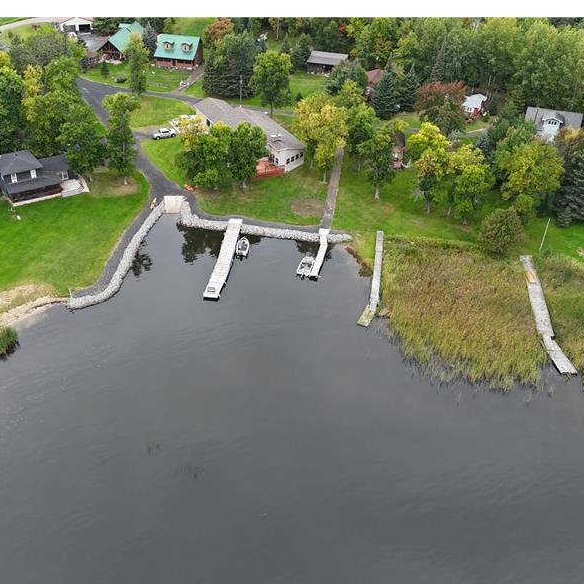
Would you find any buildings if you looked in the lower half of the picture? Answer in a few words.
No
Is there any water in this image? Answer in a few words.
Yes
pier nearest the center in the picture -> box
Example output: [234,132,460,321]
[308,230,330,279]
